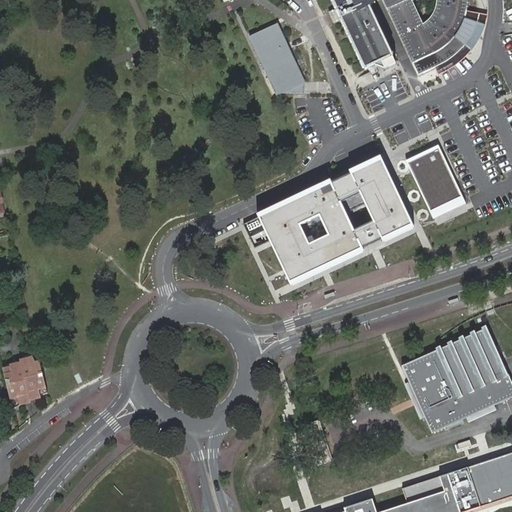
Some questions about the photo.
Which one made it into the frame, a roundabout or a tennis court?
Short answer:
roundabout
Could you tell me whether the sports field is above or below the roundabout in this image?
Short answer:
below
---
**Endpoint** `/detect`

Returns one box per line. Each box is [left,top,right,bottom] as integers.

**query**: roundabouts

[120,296,283,439]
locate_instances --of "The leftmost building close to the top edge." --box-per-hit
[250,22,305,96]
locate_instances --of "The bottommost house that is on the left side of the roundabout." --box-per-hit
[2,356,47,404]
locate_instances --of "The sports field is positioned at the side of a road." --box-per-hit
[67,450,188,512]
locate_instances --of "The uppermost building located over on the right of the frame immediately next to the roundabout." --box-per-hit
[256,154,411,284]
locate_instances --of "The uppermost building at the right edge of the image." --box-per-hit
[378,0,487,79]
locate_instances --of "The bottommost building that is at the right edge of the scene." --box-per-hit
[384,453,512,512]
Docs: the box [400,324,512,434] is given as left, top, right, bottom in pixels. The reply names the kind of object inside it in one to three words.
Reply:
building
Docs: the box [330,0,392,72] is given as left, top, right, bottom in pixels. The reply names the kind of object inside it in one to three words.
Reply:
building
